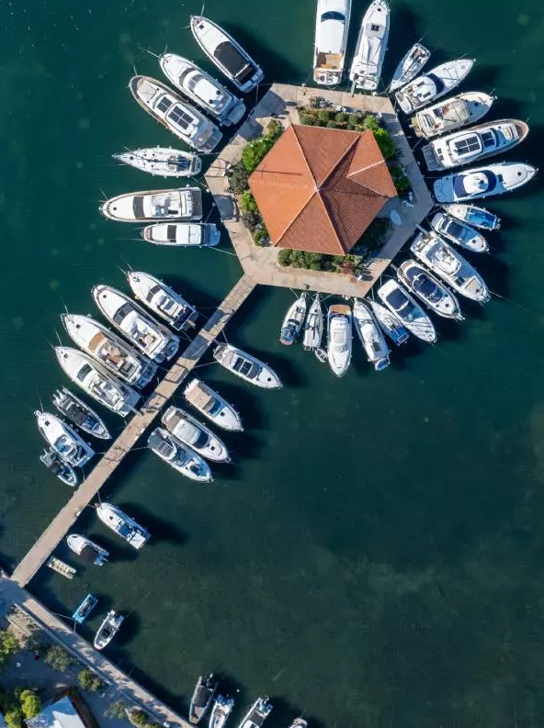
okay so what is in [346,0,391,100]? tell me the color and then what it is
white boat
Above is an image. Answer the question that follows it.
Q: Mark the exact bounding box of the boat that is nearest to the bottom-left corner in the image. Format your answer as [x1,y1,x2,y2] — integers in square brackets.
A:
[93,608,122,649]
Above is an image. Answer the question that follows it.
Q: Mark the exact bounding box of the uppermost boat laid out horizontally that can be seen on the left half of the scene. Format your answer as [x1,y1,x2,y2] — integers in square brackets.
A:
[112,145,227,178]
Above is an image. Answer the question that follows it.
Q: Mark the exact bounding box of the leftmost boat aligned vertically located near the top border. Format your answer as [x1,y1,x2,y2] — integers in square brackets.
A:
[309,0,353,94]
